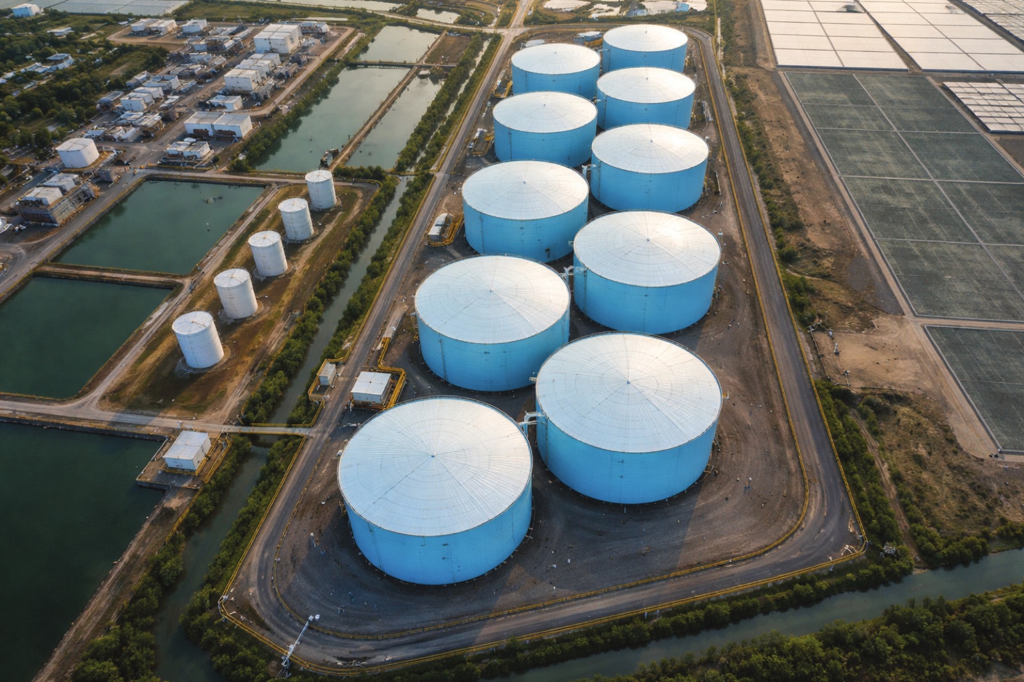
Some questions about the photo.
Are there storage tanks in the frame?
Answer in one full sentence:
Yes, a storage tank is visible in the scene.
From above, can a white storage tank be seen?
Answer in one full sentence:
Yes, the picture does show a white storage tank.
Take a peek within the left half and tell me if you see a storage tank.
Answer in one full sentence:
Yes, looking within the left half, one can make out a storage tank.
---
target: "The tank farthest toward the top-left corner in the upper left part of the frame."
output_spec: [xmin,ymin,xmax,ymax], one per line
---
[52,134,105,169]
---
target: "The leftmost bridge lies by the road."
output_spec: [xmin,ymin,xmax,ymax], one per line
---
[237,421,319,443]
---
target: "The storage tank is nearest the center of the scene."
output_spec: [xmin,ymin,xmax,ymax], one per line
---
[411,253,571,391]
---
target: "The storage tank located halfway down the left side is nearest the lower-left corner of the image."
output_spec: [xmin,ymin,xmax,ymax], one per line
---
[171,311,228,371]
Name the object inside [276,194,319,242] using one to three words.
storage tank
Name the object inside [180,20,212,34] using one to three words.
building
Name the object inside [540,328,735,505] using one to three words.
storage tank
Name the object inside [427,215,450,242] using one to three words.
shed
